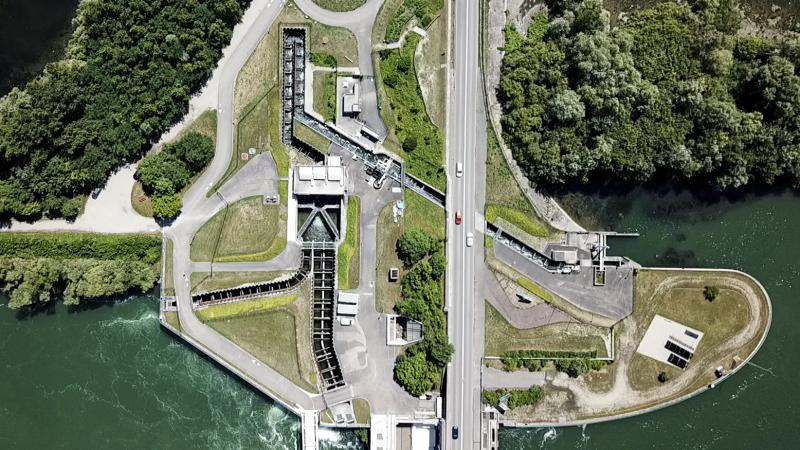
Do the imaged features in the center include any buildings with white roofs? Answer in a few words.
Yes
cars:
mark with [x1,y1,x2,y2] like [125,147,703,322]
[466,232,473,246]
[455,211,462,224]
[419,395,430,401]
[425,393,434,400]
[452,426,459,441]
[456,162,462,177]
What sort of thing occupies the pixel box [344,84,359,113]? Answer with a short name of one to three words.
building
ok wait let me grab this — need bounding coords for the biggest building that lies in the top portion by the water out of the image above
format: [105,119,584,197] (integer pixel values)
[294,156,348,200]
